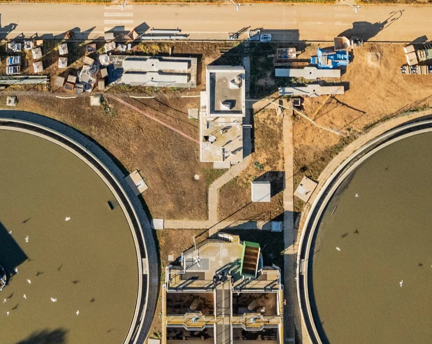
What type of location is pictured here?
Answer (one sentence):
The area seen from above is an industrial area.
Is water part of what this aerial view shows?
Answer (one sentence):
Yes, water shows up in the scene.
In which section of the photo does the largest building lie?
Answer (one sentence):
You can find the largest building in the top area of the picture.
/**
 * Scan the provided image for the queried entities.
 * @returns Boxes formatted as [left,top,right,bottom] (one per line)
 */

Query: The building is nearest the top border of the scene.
[200,66,246,117]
